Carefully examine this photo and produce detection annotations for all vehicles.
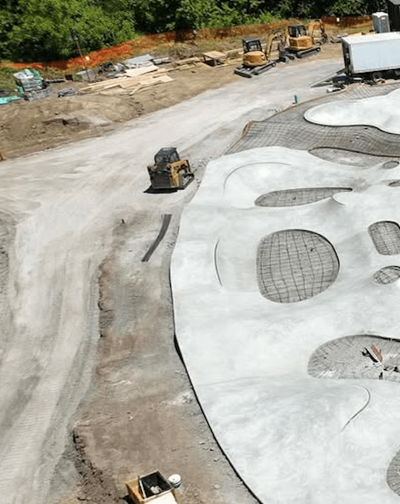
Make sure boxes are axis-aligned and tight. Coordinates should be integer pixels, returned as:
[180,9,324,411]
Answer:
[282,7,329,58]
[314,30,400,85]
[144,144,192,194]
[232,28,280,79]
